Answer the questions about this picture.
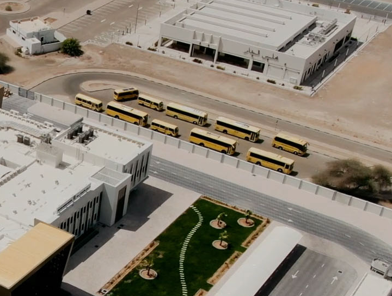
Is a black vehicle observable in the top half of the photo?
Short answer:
No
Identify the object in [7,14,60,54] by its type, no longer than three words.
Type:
building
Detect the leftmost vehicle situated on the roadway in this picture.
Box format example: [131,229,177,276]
[77,93,105,110]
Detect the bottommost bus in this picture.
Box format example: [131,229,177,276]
[248,145,298,172]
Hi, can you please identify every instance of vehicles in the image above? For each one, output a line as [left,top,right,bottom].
[138,93,165,109]
[248,145,298,172]
[167,101,211,125]
[119,87,149,99]
[215,115,263,141]
[77,93,105,110]
[272,132,312,155]
[191,127,240,153]
[107,101,151,125]
[150,116,182,135]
